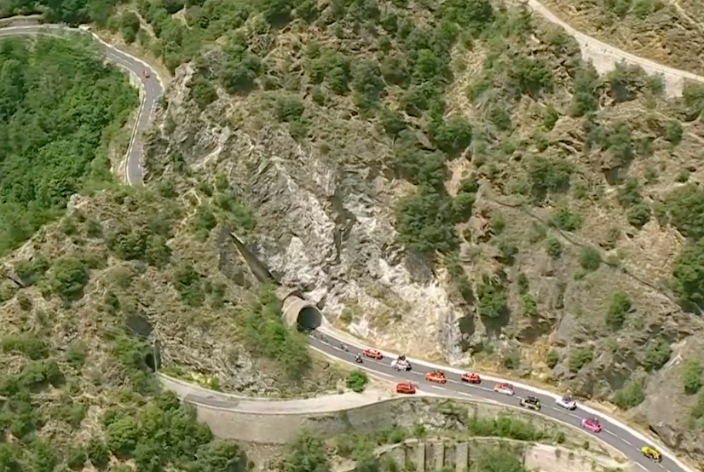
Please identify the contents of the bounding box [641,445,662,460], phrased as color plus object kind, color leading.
yellow car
